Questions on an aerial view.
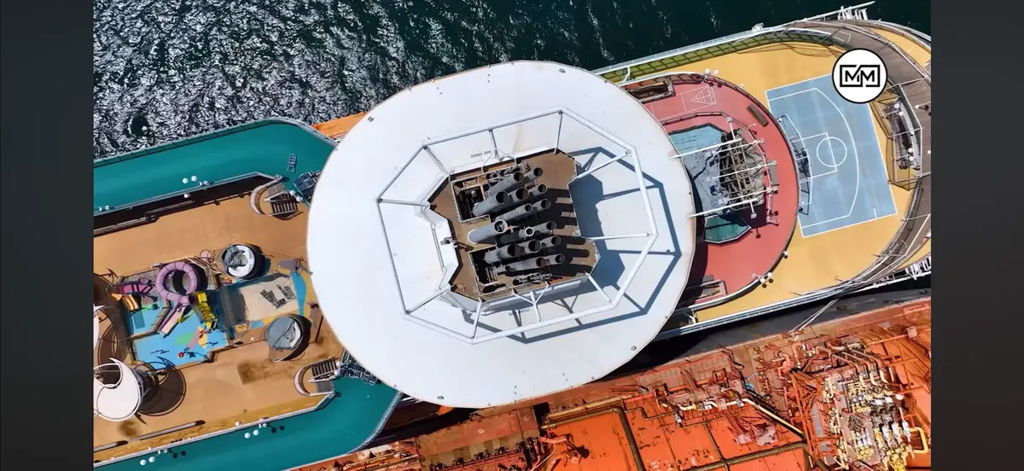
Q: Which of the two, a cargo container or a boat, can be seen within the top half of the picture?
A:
boat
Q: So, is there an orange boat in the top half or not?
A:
Yes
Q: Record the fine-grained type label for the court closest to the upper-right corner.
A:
basketball court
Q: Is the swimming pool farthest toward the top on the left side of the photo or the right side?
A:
right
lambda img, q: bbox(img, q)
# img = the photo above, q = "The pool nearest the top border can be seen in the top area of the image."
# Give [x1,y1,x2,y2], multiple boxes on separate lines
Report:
[666,121,735,221]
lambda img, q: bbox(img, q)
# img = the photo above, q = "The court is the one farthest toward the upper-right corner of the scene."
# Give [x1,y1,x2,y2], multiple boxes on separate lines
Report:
[766,66,896,236]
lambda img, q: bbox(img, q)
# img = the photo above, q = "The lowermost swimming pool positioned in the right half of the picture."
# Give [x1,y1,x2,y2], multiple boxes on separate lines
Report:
[702,212,757,245]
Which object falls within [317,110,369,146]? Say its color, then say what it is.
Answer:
orange boat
